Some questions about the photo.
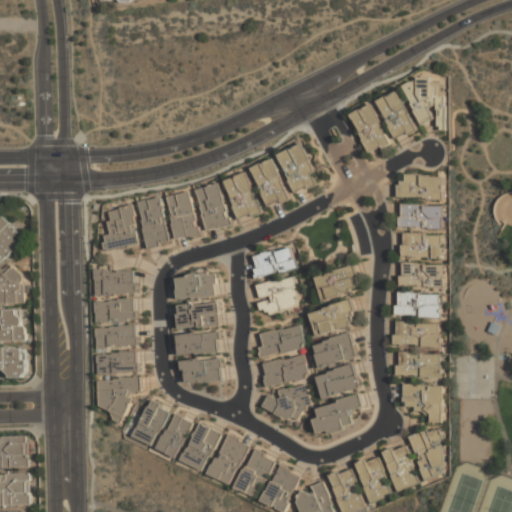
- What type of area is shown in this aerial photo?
residential area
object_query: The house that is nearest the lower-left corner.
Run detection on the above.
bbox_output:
[0,474,32,507]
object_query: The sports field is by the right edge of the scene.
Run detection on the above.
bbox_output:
[460,400,496,464]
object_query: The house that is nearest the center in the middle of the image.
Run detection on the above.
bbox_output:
[252,248,296,278]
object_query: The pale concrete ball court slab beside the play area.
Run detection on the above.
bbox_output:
[457,357,494,399]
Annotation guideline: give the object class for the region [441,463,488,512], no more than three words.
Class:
tennis court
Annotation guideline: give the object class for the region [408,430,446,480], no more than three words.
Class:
house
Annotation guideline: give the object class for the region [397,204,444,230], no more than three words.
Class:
house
